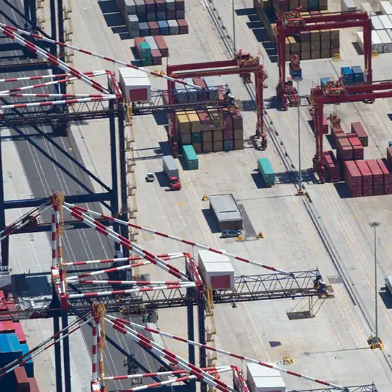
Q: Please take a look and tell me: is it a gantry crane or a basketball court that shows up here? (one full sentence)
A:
The one in the frame is a gantry crane.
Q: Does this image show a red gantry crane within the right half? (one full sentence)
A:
Yes, the scene does show a red gantry crane within the right half.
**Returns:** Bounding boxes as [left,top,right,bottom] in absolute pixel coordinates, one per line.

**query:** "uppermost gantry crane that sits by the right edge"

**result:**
[271,3,373,108]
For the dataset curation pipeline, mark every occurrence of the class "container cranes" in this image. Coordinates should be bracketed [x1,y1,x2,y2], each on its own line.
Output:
[0,24,243,298]
[0,0,82,138]
[163,44,269,156]
[0,190,334,392]
[0,301,378,392]
[309,72,392,182]
[271,3,373,108]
